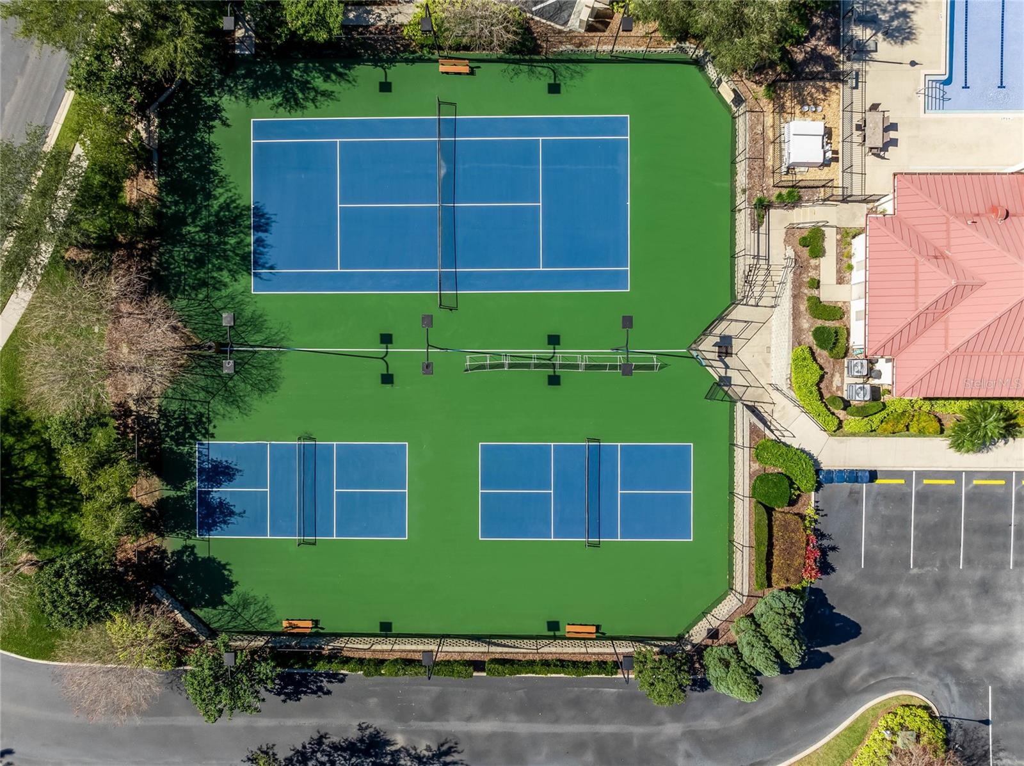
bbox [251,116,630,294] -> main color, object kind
blue tennis court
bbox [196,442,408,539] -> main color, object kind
blue sports court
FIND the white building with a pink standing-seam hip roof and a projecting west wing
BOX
[852,159,1024,398]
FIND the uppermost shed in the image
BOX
[777,121,828,184]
